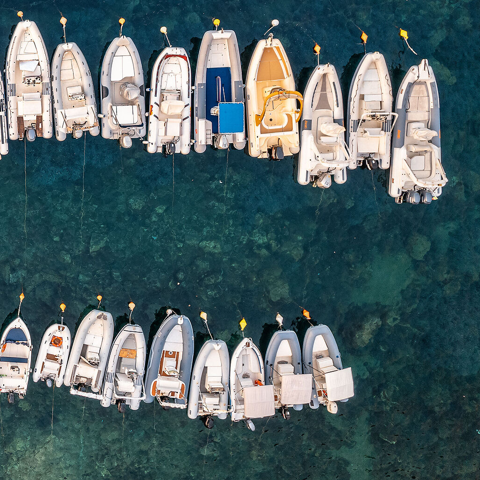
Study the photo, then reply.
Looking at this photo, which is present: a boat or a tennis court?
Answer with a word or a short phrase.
boat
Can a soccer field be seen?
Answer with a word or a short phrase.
No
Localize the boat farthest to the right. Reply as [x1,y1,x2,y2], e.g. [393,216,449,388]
[390,54,448,204]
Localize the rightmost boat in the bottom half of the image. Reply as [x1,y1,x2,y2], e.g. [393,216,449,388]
[304,325,354,414]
